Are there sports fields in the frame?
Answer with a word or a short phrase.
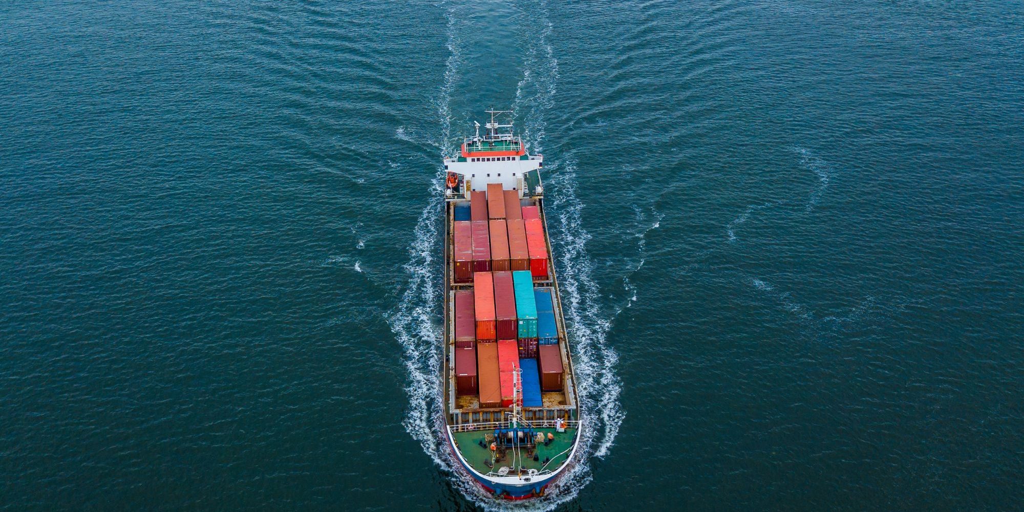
No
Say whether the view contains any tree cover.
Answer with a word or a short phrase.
No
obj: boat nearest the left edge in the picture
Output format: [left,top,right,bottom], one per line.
[445,172,460,188]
